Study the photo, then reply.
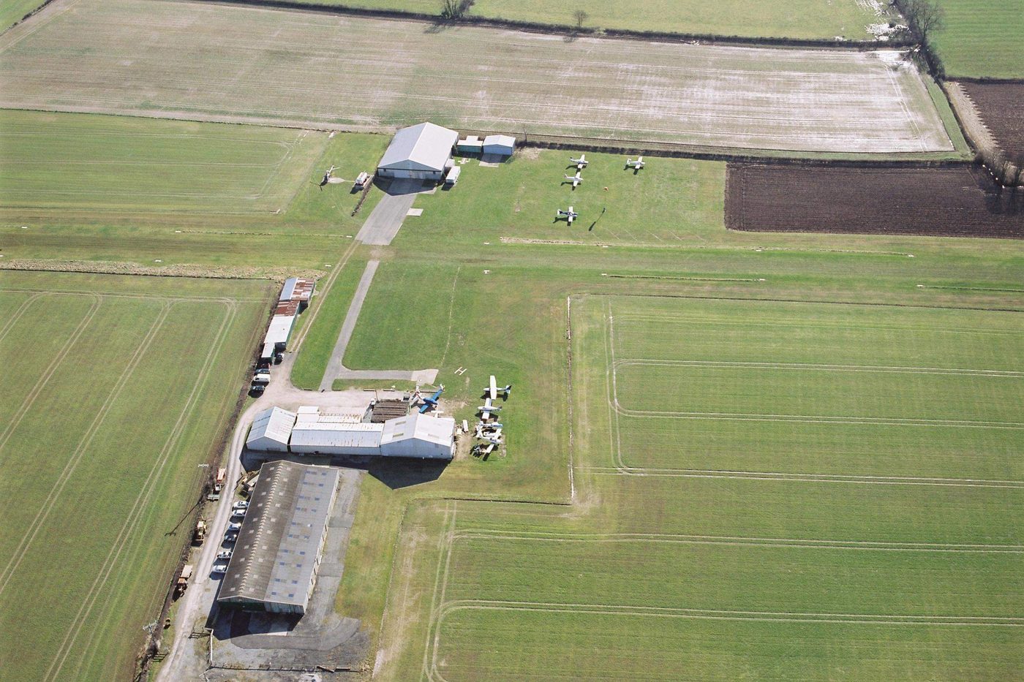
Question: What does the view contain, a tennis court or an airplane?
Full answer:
I can see an airplane in this picture.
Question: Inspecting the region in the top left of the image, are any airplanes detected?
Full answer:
No, in the top left of the image there is no airplane.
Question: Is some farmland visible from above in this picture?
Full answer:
Yes, the picture does contain farmland.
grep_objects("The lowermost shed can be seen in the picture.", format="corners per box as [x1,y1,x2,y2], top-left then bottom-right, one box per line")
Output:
[215,458,340,613]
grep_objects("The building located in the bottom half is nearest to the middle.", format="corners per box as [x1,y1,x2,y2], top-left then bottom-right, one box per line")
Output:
[379,408,456,460]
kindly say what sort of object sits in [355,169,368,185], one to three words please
vehicle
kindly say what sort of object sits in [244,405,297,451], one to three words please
building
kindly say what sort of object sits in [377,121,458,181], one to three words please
hangar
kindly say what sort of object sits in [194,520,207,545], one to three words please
vehicle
